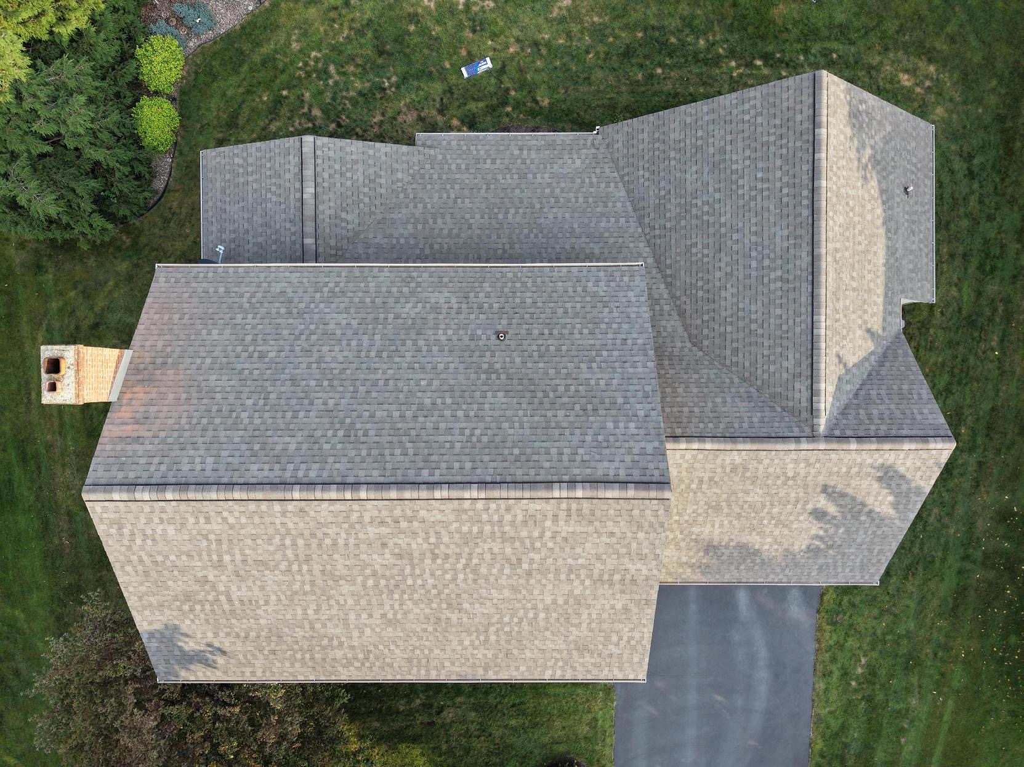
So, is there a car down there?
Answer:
No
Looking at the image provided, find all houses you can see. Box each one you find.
[43,71,956,683]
